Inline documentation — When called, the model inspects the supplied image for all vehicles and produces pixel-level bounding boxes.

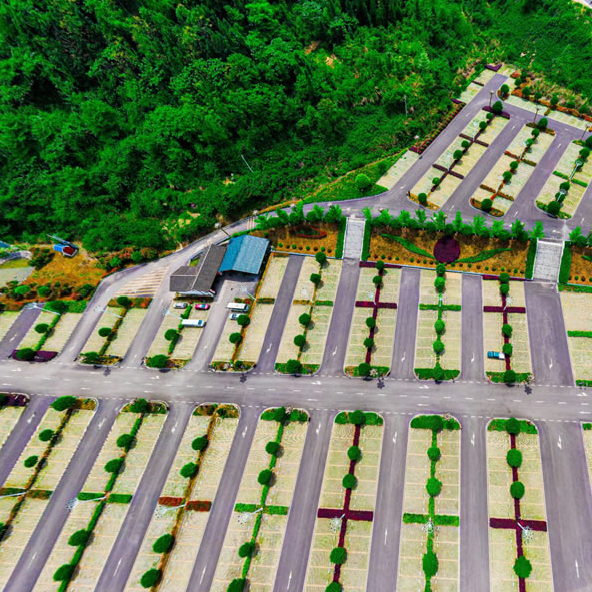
[193,303,210,311]
[225,304,250,313]
[181,319,206,329]
[172,303,189,310]
[487,351,505,359]
[228,314,242,321]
